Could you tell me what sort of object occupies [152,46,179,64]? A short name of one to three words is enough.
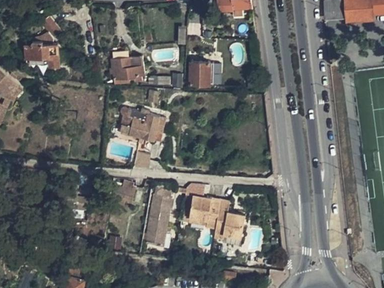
swimming pool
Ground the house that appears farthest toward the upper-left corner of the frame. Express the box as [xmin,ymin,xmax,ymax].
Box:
[24,16,61,68]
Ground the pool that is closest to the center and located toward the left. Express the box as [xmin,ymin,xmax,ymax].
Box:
[108,138,138,164]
